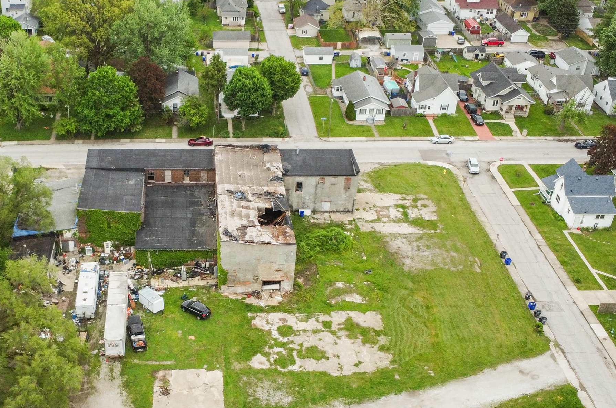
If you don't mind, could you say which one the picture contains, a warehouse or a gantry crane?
warehouse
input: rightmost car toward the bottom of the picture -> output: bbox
[180,299,214,322]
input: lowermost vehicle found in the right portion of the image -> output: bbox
[464,158,482,174]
